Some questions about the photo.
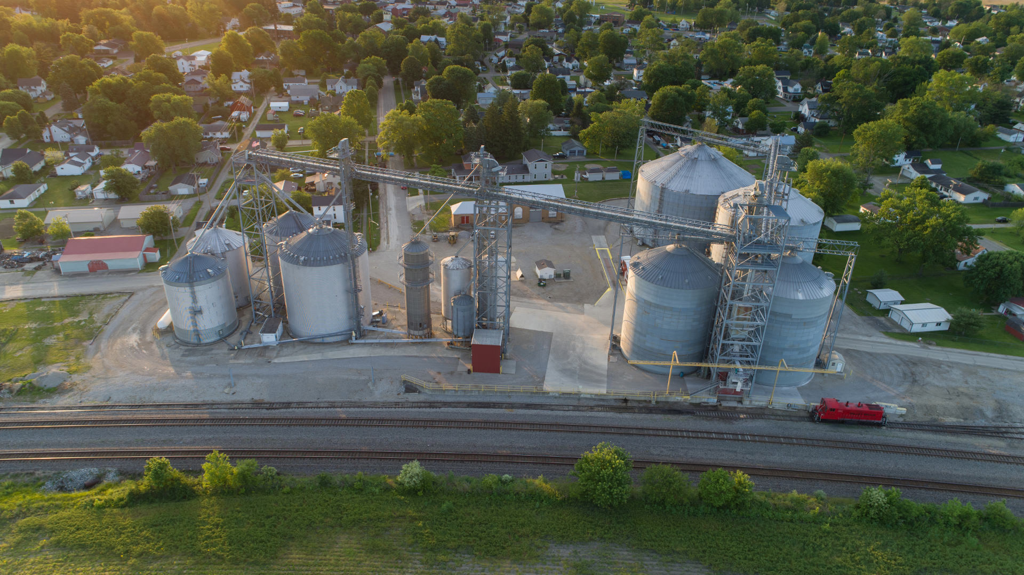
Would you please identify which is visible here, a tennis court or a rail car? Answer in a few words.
rail car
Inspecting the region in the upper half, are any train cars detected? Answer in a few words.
No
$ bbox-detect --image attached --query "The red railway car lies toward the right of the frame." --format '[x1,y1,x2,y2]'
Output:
[813,397,890,429]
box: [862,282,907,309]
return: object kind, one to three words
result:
building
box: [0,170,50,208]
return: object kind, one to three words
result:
house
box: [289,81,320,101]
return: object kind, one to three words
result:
shed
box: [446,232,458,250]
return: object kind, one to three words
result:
vehicle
